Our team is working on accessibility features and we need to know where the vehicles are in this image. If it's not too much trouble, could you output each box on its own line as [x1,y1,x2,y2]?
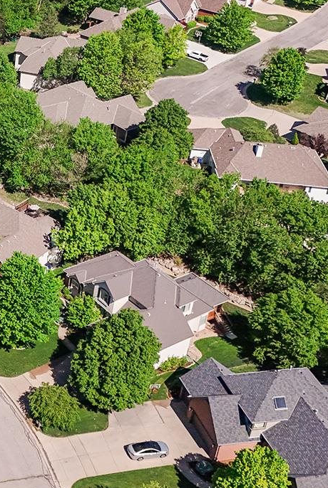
[127,437,174,460]
[184,47,212,61]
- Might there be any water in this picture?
No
